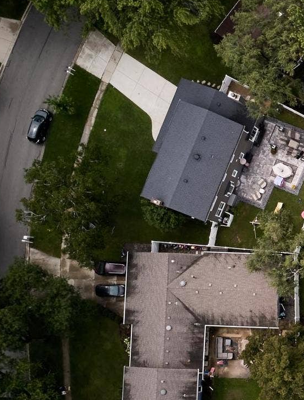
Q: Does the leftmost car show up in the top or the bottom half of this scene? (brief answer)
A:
top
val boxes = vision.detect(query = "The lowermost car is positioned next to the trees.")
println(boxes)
[92,281,128,299]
